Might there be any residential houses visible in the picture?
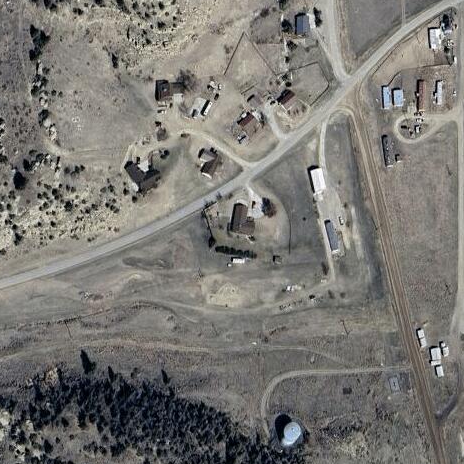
Yes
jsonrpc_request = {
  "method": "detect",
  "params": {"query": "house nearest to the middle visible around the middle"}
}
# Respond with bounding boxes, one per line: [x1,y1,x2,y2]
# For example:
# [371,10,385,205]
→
[232,204,256,234]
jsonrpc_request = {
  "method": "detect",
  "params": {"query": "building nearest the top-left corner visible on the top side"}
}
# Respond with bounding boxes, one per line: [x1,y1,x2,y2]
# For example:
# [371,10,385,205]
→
[158,80,183,102]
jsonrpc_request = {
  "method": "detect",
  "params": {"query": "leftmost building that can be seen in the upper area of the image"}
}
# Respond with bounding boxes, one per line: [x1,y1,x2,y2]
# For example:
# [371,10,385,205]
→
[125,160,161,190]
